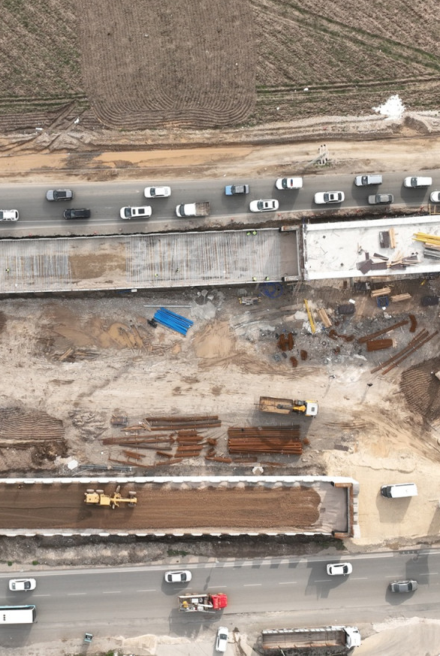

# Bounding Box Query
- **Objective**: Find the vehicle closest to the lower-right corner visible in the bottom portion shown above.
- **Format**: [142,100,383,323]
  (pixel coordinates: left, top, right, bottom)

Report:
[387,578,417,593]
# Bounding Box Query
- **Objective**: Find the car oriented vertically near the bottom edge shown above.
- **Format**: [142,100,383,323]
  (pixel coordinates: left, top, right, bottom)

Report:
[215,627,228,654]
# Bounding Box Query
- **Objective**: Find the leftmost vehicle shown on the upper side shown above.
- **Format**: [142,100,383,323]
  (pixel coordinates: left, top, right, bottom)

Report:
[0,208,19,221]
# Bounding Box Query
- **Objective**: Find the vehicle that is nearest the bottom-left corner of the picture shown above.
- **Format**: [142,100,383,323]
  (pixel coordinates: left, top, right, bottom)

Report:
[0,603,39,624]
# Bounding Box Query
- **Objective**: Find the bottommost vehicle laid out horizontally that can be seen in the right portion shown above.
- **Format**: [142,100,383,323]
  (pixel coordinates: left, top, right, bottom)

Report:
[262,628,363,655]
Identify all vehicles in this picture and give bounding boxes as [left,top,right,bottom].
[46,188,73,201]
[120,206,151,219]
[366,193,393,205]
[224,183,248,195]
[176,591,226,611]
[8,577,36,591]
[354,174,383,186]
[84,487,141,510]
[249,199,278,212]
[0,208,19,221]
[175,202,210,217]
[313,190,344,203]
[387,578,417,593]
[325,562,352,576]
[381,483,420,498]
[262,628,363,655]
[164,569,191,582]
[256,397,319,417]
[275,176,303,189]
[215,627,228,654]
[63,207,90,220]
[0,603,39,624]
[404,176,433,189]
[143,186,171,198]
[429,192,440,203]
